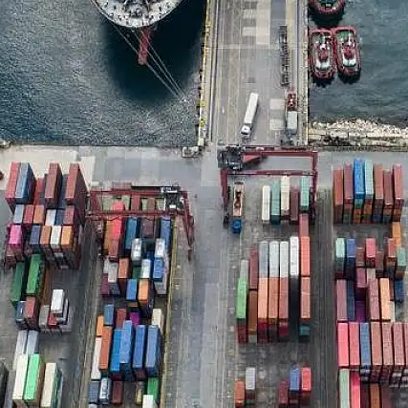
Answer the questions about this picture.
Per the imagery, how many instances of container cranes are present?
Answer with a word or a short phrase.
two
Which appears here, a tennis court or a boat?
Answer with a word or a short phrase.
boat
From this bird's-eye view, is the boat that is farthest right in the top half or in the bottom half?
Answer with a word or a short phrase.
top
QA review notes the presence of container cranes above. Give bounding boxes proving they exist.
[82,188,193,265]
[216,149,320,228]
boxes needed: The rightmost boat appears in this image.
[334,25,363,84]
